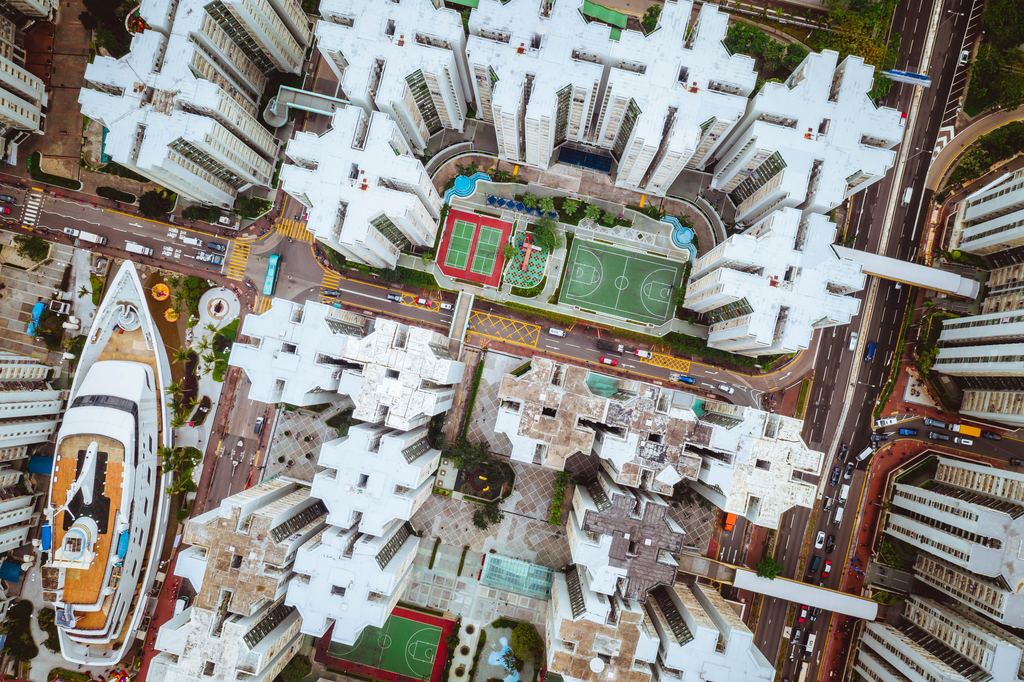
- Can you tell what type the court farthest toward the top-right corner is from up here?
basketball court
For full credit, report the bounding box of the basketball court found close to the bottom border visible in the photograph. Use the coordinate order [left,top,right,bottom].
[314,607,455,682]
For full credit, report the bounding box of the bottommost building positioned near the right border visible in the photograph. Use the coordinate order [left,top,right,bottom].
[849,584,1024,682]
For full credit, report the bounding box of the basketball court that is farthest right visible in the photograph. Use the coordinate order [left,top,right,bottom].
[559,239,684,326]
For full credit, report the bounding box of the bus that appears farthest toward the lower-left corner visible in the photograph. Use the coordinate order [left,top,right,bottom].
[173,593,193,620]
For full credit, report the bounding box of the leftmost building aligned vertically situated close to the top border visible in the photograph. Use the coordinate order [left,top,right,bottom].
[0,29,55,159]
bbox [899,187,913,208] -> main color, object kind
white vehicle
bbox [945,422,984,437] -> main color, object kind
orange vehicle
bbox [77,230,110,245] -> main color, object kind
white vehicle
